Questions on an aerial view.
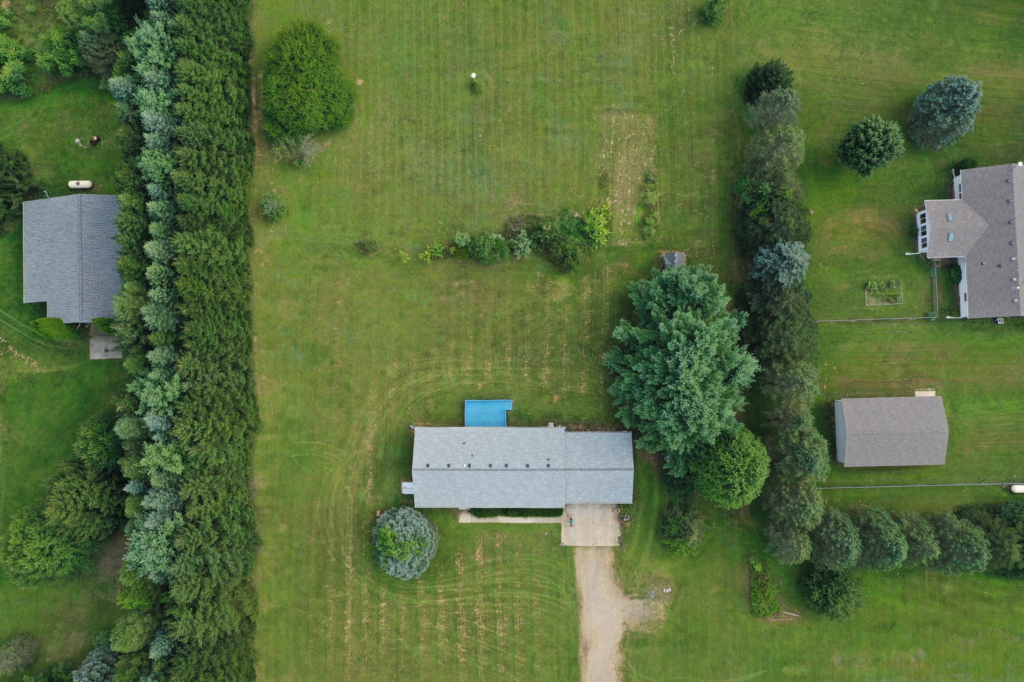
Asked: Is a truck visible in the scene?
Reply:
No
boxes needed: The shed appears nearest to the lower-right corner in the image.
[834,395,951,468]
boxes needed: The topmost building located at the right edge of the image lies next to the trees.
[900,162,1024,319]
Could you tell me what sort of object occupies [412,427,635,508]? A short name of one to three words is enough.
house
